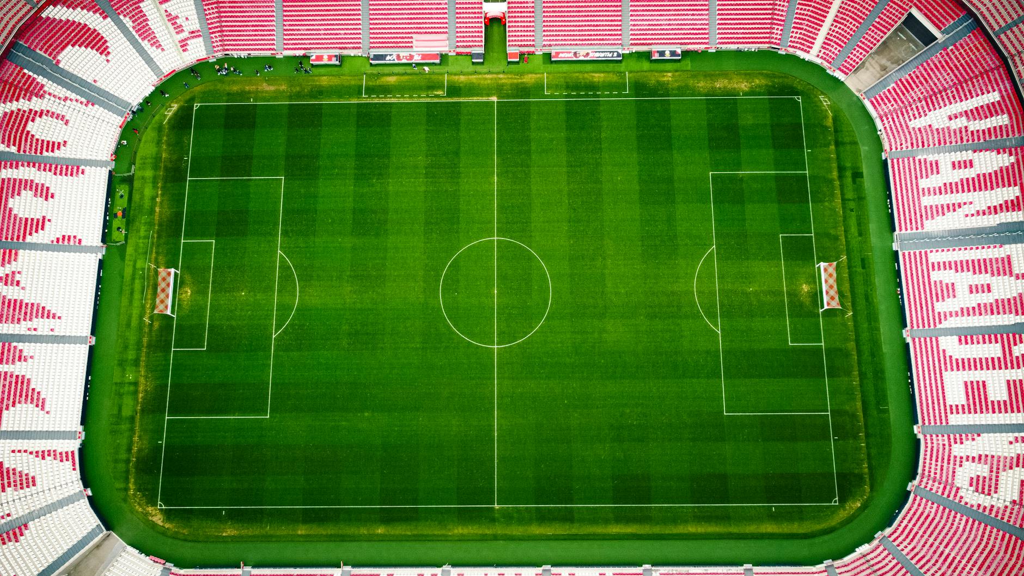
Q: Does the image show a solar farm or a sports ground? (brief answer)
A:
sports ground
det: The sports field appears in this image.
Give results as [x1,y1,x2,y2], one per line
[132,70,865,535]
